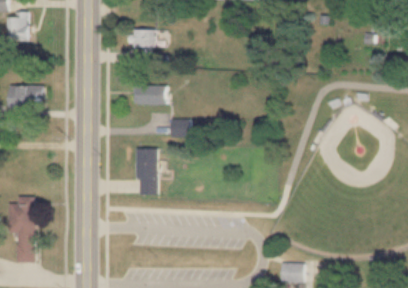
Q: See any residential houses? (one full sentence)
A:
Yes, I can see a residential house in this picture.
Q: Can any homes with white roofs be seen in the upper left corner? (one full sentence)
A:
Yes, the scene does show a home with a white roof in the upper left corner.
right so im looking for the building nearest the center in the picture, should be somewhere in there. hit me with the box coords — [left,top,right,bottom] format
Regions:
[170,118,192,137]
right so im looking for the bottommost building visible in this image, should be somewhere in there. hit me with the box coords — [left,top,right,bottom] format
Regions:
[281,262,306,284]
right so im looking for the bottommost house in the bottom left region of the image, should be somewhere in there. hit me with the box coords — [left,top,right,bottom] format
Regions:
[10,195,38,262]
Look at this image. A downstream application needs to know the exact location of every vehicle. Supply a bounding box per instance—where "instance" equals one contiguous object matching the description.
[157,128,171,133]
[77,262,82,274]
